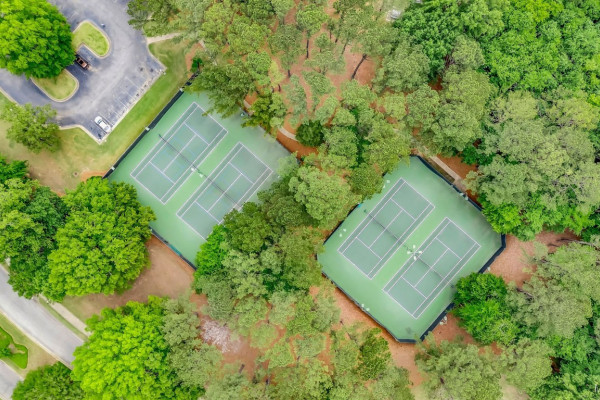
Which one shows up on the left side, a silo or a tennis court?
tennis court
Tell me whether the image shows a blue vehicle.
No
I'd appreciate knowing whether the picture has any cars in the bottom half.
No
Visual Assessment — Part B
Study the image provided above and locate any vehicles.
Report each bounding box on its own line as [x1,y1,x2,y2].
[93,115,111,133]
[71,52,88,69]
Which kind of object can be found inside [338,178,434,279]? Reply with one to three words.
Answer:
tennis court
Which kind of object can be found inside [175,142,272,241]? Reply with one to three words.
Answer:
tennis court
